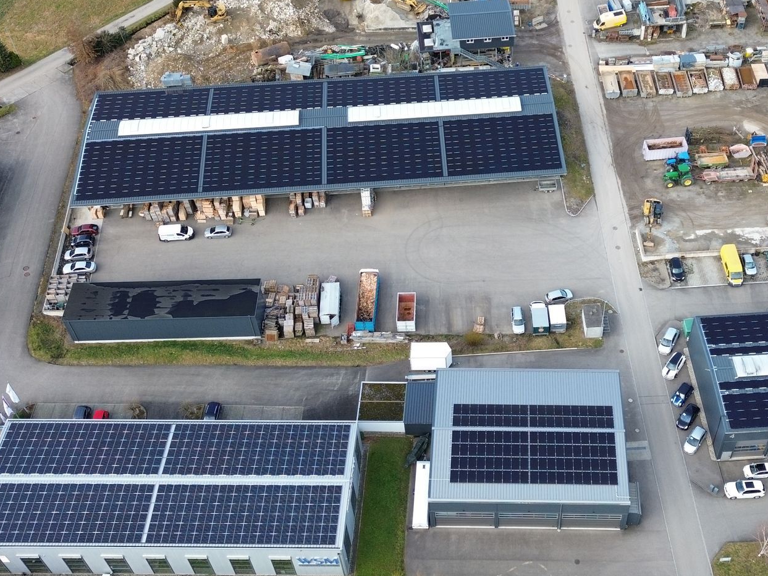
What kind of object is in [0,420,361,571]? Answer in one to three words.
building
